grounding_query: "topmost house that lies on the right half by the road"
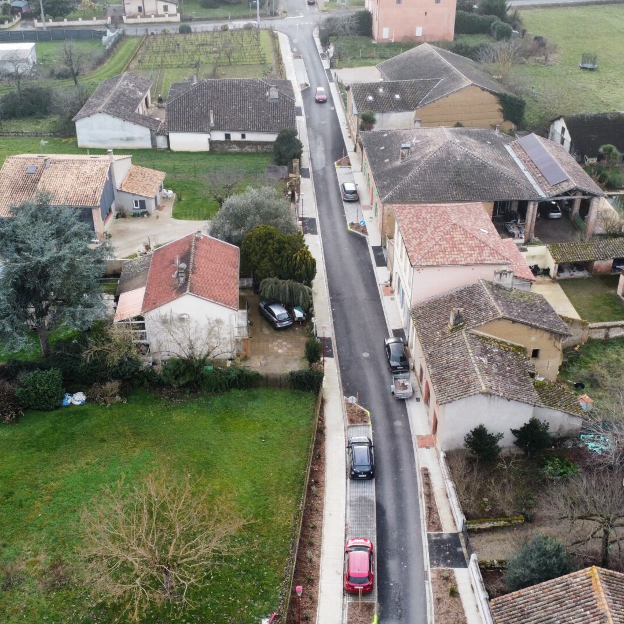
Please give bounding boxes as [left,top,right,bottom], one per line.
[367,0,458,42]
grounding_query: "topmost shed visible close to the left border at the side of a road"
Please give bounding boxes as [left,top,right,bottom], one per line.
[9,0,33,24]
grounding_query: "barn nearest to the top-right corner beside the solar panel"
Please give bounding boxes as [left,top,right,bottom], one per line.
[546,110,624,165]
